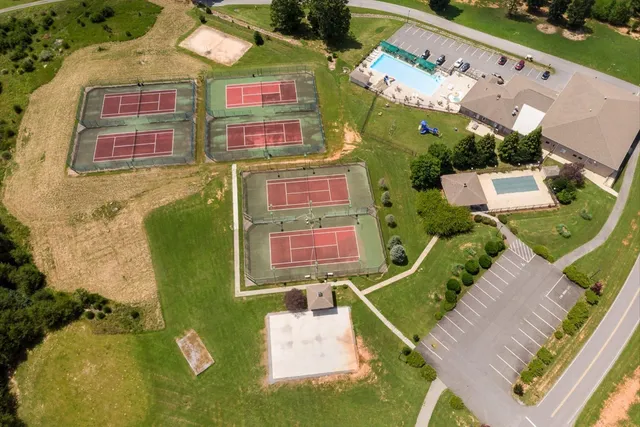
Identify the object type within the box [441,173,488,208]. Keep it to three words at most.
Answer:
building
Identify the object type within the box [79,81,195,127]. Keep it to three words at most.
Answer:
tennis court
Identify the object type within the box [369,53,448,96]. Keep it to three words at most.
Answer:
swimming pool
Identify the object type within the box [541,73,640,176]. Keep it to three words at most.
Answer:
building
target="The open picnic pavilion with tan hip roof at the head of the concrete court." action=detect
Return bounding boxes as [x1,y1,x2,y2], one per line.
[306,283,334,313]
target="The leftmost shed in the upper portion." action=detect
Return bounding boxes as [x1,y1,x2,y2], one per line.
[349,70,378,91]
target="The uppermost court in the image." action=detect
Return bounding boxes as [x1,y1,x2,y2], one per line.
[179,24,252,66]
